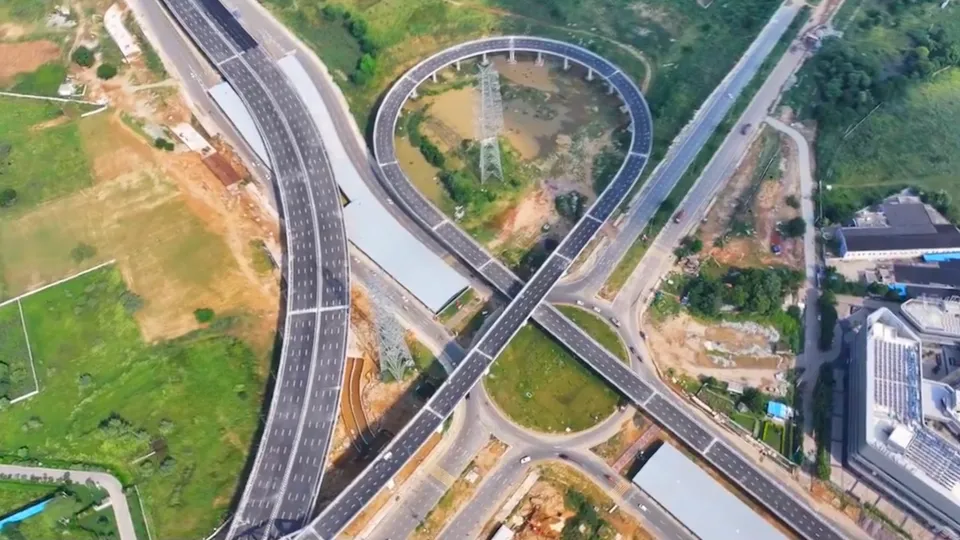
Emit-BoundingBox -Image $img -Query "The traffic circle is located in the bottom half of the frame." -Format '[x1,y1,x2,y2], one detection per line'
[467,286,651,454]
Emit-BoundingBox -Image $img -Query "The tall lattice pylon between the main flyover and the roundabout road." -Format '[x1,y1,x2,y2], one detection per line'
[358,269,416,391]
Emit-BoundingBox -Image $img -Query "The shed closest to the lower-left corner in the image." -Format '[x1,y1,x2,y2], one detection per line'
[0,494,50,527]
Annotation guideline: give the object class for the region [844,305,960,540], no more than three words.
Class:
building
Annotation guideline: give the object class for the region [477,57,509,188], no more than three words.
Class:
pylon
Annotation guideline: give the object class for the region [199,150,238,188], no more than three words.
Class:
shed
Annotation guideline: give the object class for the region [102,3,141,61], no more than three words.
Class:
shed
